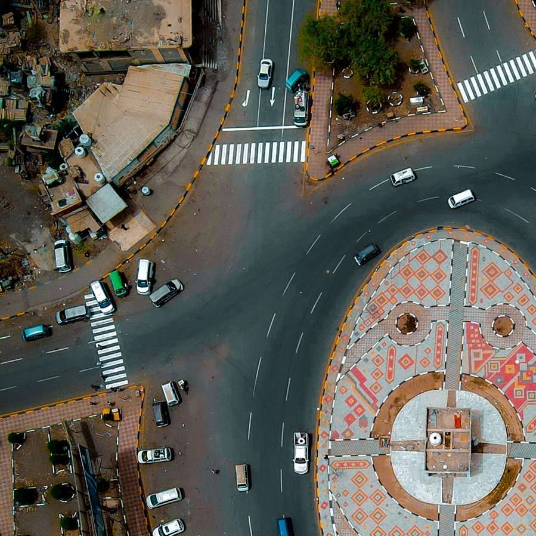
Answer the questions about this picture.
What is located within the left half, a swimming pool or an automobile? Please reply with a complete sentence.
It is an automobile that can be seen within the left half.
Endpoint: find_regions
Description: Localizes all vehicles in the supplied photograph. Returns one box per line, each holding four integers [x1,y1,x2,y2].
[387,166,419,187]
[161,380,180,407]
[107,269,128,297]
[148,279,185,307]
[235,463,249,492]
[152,399,170,426]
[258,58,273,91]
[146,487,184,507]
[134,257,153,295]
[152,518,187,536]
[292,90,309,128]
[138,446,174,462]
[56,304,92,324]
[53,240,72,273]
[352,242,382,266]
[21,325,51,343]
[278,516,294,536]
[284,67,308,94]
[88,279,115,315]
[445,187,476,209]
[292,432,309,475]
